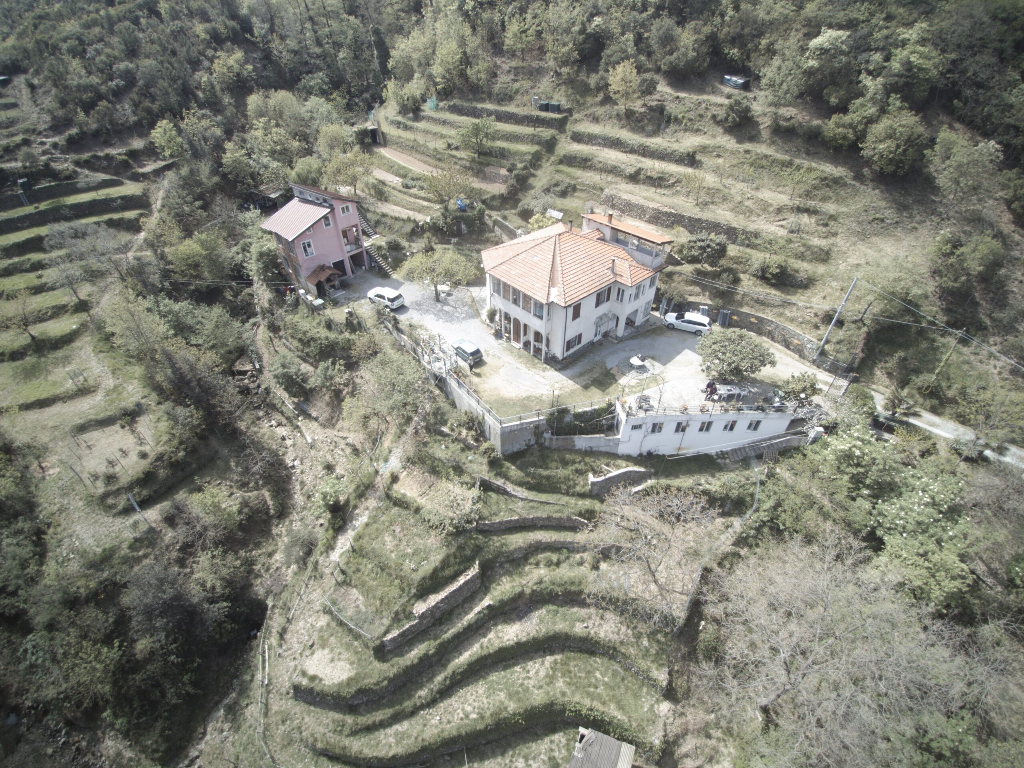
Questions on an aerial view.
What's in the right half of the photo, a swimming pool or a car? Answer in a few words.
car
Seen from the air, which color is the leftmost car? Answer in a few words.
white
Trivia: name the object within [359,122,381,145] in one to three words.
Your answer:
shed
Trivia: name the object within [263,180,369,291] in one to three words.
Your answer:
house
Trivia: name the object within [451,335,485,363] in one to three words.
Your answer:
car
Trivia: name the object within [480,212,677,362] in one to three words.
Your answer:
house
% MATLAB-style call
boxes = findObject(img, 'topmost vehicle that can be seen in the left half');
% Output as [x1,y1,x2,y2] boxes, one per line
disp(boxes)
[365,285,406,310]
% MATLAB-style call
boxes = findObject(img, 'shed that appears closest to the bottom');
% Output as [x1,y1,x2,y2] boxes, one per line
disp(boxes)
[567,728,636,768]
